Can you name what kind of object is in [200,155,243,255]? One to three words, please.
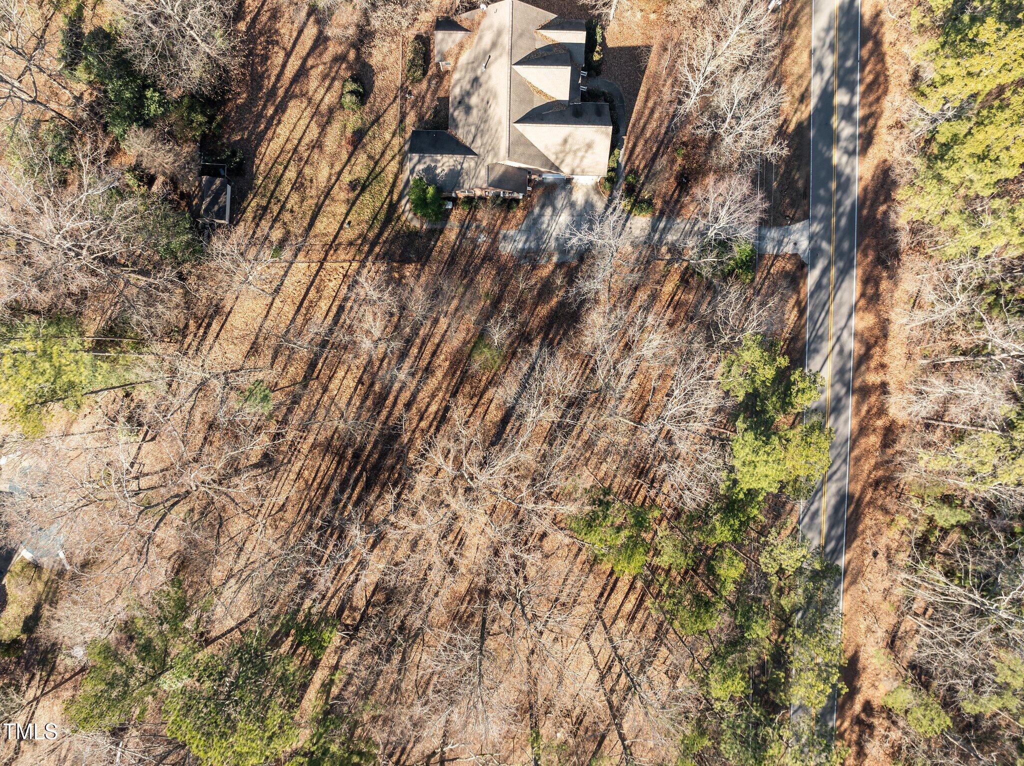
shed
